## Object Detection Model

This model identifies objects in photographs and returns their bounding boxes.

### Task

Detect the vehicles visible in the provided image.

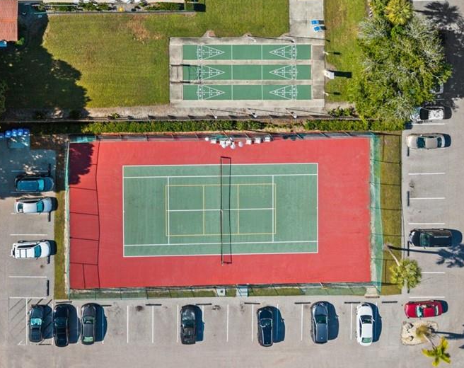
[14,197,54,215]
[52,302,72,346]
[256,304,276,346]
[356,301,376,345]
[403,298,442,318]
[409,228,452,249]
[310,299,330,344]
[10,240,51,260]
[80,301,97,343]
[14,174,53,193]
[28,302,45,345]
[407,132,445,149]
[179,303,199,345]
[410,106,450,124]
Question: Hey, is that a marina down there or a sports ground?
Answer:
sports ground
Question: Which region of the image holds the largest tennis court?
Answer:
center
